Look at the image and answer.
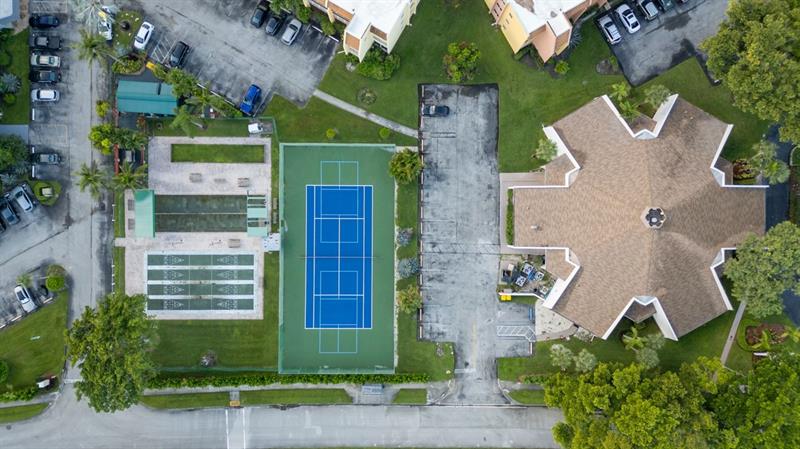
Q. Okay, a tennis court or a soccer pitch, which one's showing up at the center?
tennis court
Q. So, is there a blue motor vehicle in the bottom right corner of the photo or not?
No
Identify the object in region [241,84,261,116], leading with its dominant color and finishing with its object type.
blue vehicle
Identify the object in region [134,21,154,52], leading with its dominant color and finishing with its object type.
white car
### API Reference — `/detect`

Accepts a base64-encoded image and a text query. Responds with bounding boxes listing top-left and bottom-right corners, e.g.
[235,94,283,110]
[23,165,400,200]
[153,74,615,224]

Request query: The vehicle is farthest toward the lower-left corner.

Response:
[16,287,38,312]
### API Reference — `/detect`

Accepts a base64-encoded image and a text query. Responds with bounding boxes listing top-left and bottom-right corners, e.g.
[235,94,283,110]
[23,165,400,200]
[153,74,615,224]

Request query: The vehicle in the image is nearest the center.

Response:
[422,104,451,117]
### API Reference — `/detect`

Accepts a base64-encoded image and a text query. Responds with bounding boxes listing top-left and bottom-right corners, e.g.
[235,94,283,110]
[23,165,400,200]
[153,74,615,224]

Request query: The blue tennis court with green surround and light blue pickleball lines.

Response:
[284,146,395,370]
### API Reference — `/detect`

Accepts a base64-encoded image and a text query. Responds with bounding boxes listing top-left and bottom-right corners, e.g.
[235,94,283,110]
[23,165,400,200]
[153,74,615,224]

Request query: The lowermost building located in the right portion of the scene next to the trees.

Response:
[507,89,770,347]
